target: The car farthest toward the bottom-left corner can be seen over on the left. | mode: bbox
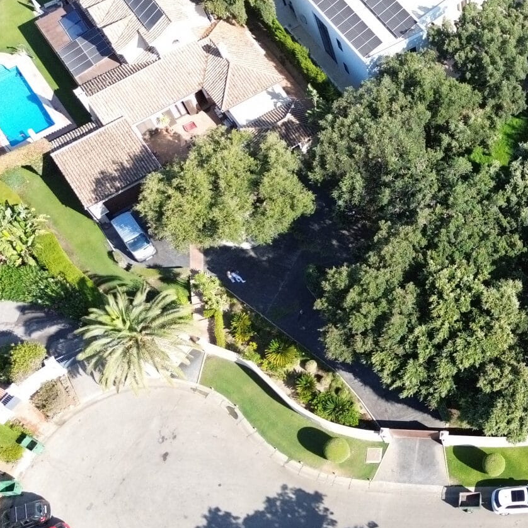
[0,500,56,528]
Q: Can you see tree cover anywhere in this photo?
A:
Yes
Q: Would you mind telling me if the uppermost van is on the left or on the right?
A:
left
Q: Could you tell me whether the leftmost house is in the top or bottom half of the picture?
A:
top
